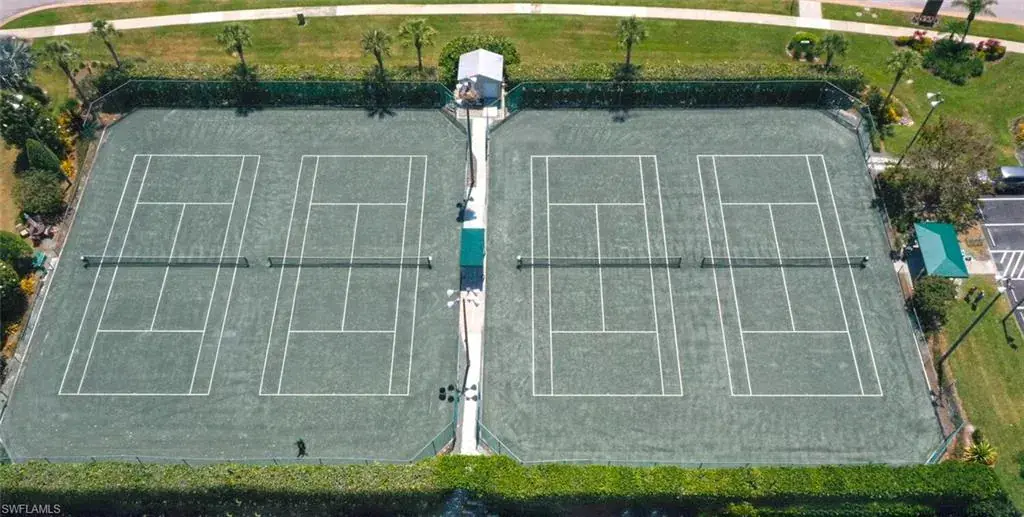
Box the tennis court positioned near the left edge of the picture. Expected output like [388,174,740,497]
[0,107,290,471]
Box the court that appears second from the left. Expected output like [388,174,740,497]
[220,107,465,471]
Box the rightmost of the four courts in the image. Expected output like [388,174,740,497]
[670,106,944,472]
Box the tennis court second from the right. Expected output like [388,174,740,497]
[483,106,717,472]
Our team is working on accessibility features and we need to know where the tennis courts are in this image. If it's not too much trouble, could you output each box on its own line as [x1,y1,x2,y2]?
[670,106,944,472]
[220,107,465,471]
[483,106,717,472]
[0,107,290,471]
